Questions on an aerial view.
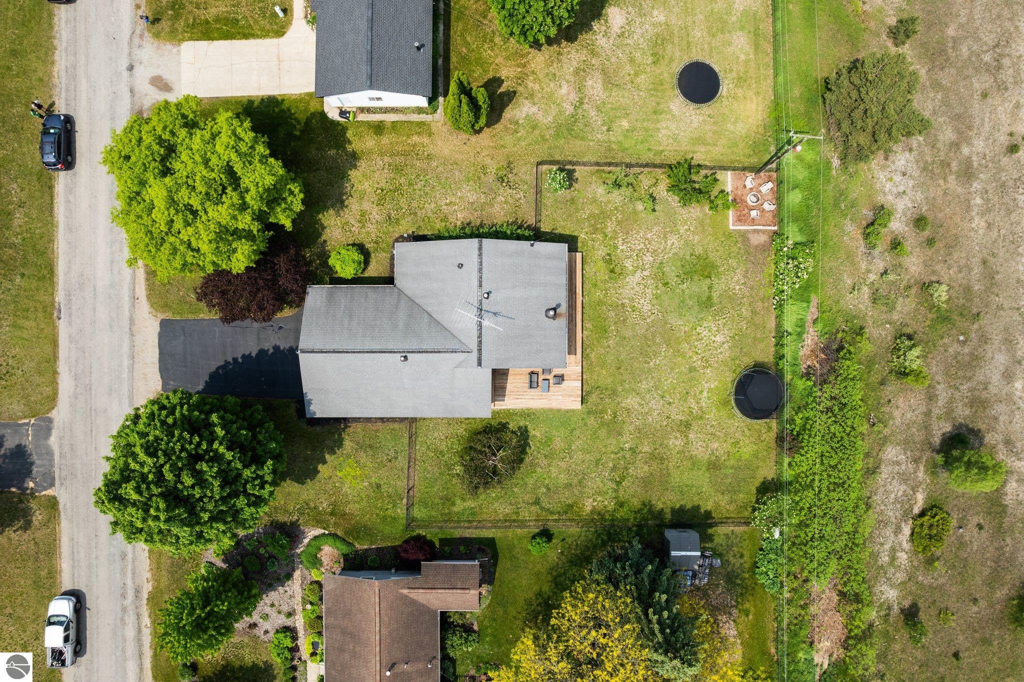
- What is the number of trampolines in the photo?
2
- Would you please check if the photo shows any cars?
Yes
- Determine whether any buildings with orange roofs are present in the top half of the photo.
No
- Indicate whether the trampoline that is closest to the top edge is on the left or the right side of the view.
right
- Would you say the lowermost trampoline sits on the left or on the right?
right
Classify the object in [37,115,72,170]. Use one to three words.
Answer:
car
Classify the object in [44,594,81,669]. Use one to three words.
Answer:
truck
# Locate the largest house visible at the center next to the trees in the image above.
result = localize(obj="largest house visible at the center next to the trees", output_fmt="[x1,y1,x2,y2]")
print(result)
[298,238,568,419]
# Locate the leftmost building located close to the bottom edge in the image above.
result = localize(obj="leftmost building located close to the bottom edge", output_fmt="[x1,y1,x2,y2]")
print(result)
[312,546,488,682]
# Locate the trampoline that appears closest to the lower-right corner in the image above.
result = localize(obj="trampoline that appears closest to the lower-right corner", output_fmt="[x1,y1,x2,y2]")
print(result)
[730,368,793,420]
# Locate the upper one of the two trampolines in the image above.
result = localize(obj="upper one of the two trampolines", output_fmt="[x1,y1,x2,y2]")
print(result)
[673,59,723,110]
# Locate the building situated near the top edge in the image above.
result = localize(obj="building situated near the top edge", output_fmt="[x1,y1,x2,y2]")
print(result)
[310,0,433,108]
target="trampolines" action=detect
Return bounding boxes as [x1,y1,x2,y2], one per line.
[730,368,793,420]
[673,59,723,110]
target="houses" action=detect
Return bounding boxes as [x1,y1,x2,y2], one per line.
[310,0,433,108]
[298,238,568,419]
[312,546,488,682]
